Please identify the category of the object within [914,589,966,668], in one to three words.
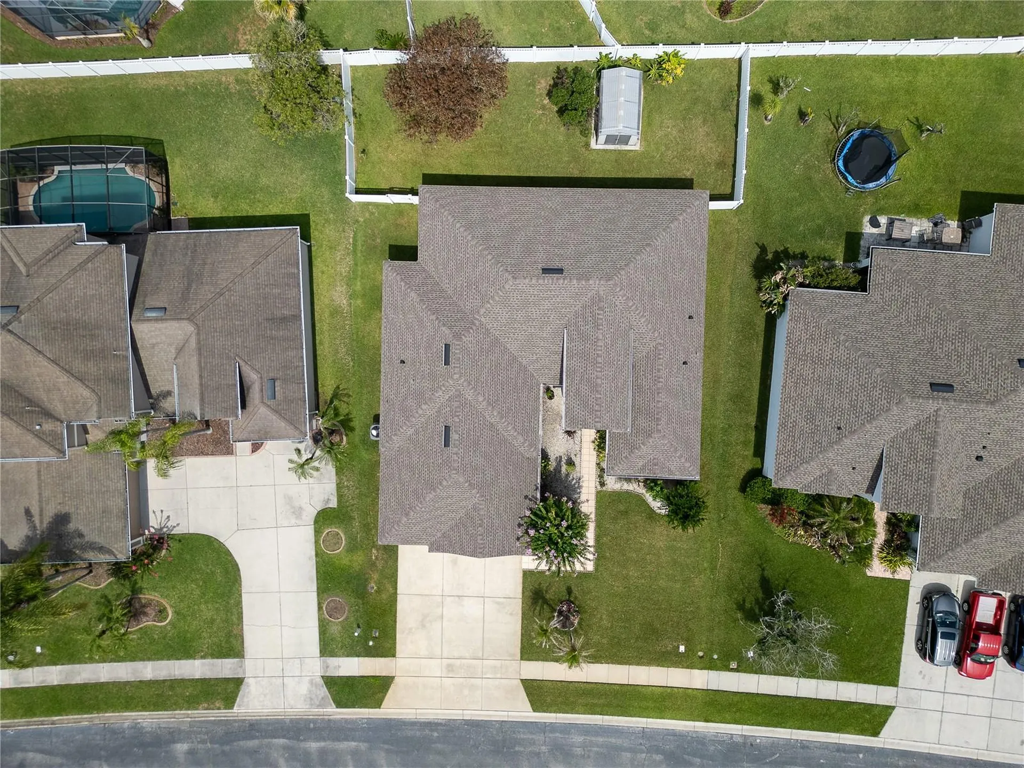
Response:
car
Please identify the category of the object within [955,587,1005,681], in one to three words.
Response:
truck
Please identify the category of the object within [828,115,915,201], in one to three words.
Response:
trampoline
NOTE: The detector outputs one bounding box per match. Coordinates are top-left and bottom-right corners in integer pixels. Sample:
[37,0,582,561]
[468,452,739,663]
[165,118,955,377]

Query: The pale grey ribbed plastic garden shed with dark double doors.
[599,67,642,141]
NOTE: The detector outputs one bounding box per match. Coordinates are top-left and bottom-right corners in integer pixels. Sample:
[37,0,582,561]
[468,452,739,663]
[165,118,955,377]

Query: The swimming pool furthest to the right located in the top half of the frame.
[29,161,161,236]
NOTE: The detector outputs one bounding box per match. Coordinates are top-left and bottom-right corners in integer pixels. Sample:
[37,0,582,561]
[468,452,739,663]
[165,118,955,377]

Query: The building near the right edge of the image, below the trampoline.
[770,203,1024,579]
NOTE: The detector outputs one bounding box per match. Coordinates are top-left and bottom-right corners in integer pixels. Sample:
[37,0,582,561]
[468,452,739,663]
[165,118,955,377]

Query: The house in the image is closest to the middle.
[376,185,708,558]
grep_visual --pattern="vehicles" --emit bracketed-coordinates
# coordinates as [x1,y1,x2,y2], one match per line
[914,589,966,668]
[955,587,1005,681]
[1000,593,1024,670]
